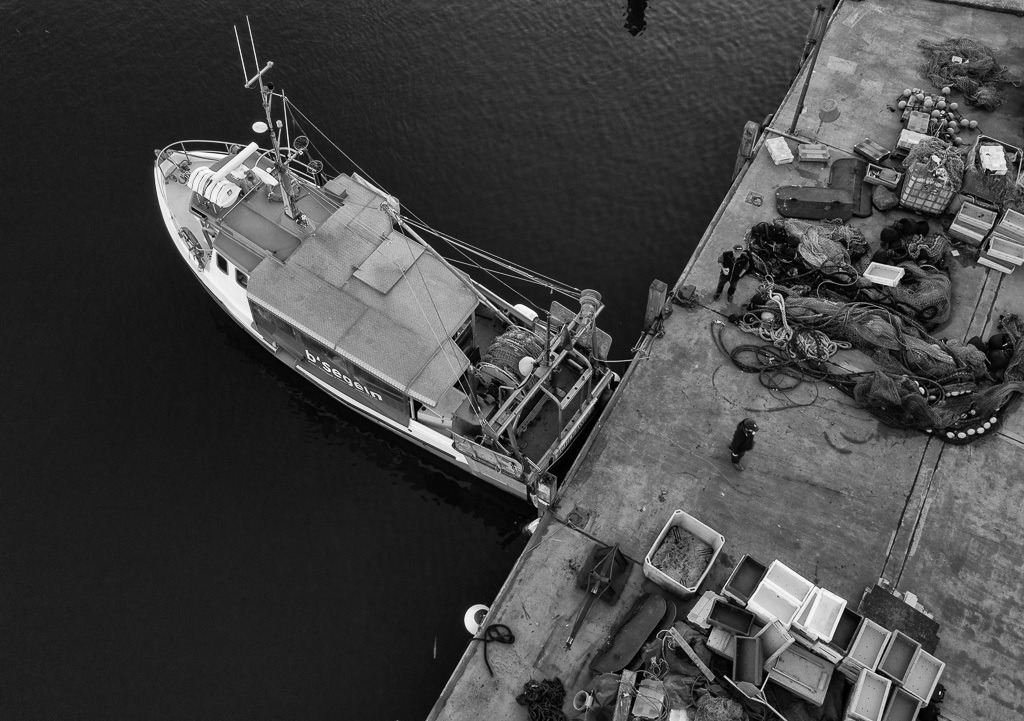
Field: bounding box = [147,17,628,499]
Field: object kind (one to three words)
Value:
boat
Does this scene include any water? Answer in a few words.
Yes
